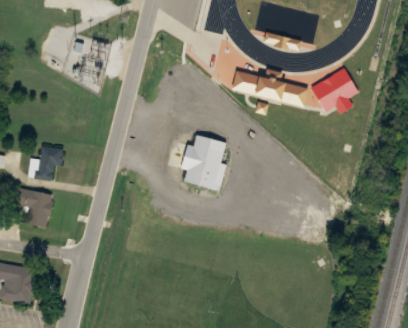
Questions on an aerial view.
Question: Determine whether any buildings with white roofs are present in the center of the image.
Yes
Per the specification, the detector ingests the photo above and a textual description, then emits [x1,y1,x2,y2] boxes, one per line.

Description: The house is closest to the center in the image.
[182,136,228,192]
